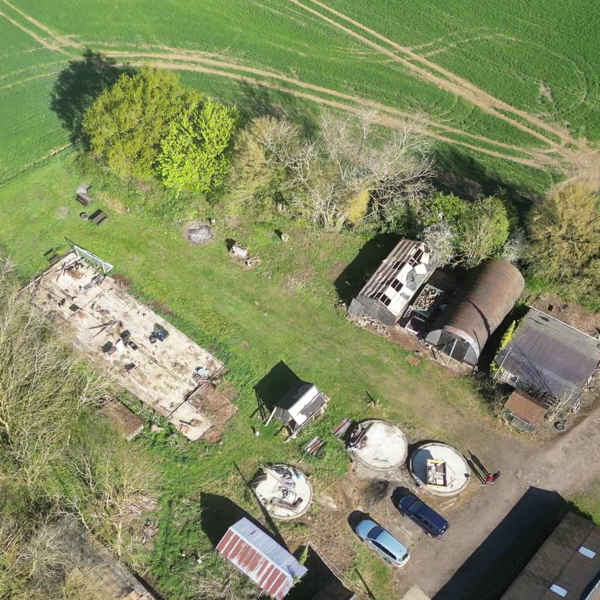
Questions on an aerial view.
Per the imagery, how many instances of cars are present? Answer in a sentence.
The count of cars comes to 2.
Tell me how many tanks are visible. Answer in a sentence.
I count 3 tanks.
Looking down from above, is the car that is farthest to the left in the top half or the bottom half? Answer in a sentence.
Seen from above, the car that is farthest to the left lies in the bottom half of the view.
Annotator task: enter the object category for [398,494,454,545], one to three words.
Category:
car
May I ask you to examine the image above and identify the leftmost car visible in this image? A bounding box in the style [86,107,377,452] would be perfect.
[355,519,414,573]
